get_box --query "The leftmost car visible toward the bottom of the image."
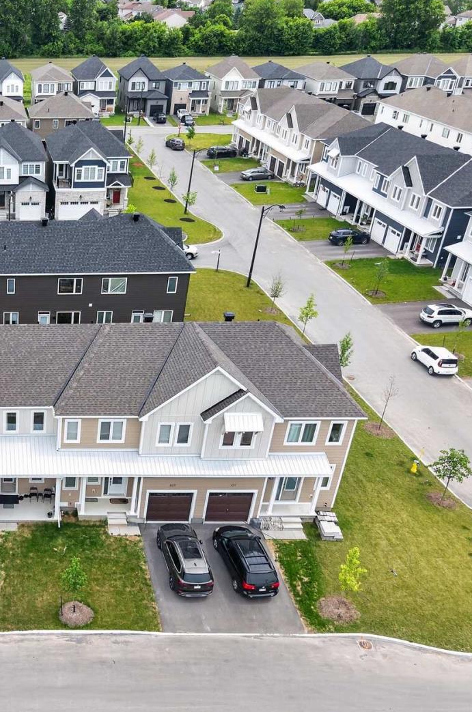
[157,527,215,600]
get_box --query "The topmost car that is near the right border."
[419,301,472,328]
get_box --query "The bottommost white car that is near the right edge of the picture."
[411,345,463,377]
